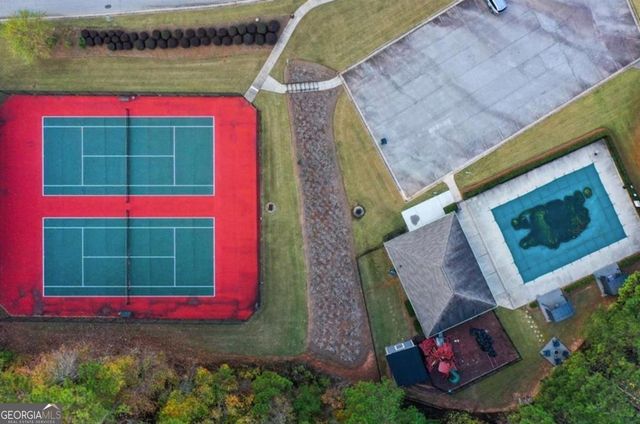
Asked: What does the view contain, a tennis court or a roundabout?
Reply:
tennis court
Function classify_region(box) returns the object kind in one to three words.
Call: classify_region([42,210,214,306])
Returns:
tennis court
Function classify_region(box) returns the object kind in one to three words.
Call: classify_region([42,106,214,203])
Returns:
tennis court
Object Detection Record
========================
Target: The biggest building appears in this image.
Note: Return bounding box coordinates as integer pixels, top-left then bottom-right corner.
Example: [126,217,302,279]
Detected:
[384,212,498,338]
